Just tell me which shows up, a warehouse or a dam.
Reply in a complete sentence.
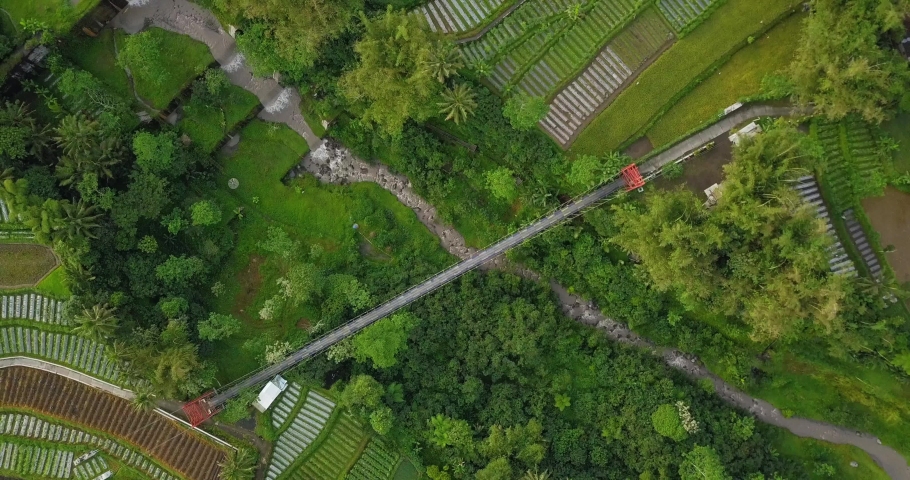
This aerial view contains a dam.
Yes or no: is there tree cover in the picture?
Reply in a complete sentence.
Yes, some tree cover is visible.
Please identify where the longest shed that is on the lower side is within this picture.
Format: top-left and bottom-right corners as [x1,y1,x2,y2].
[251,374,287,412]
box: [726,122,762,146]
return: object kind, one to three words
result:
shed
